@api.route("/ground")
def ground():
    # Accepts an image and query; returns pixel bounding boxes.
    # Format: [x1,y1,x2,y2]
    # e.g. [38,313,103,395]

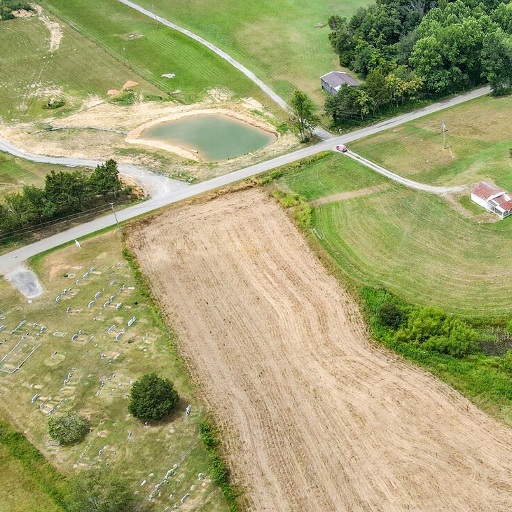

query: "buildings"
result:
[318,70,359,98]
[466,179,512,219]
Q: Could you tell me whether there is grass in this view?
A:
Yes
